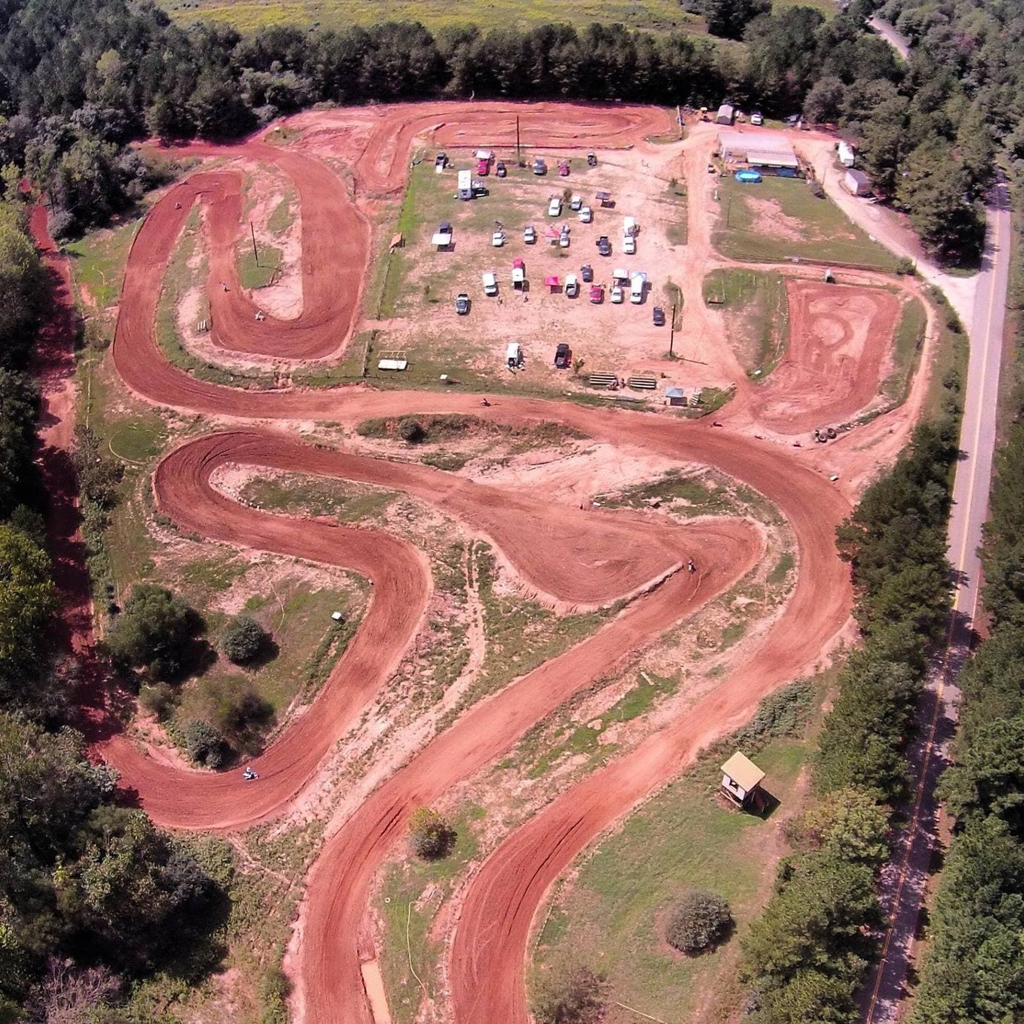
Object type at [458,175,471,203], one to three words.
vehicle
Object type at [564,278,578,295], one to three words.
vehicle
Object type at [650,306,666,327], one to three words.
car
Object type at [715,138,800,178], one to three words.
house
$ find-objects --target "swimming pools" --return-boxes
[736,172,761,185]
